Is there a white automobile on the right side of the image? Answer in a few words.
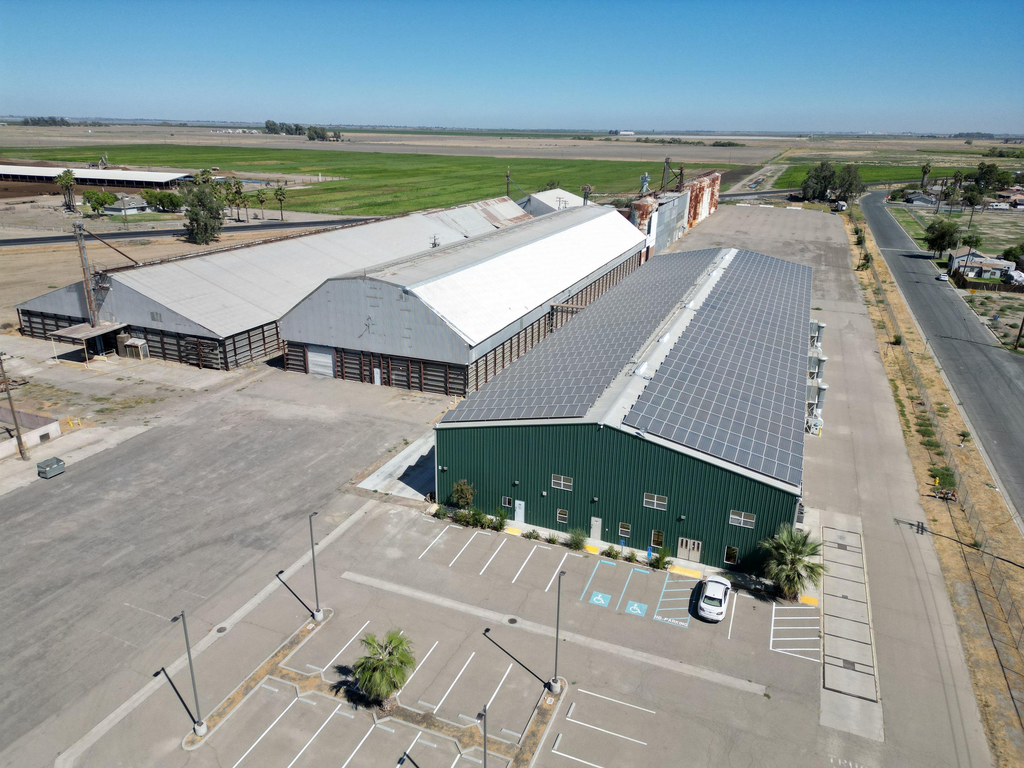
Yes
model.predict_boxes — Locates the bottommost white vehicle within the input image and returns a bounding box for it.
[698,573,735,622]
